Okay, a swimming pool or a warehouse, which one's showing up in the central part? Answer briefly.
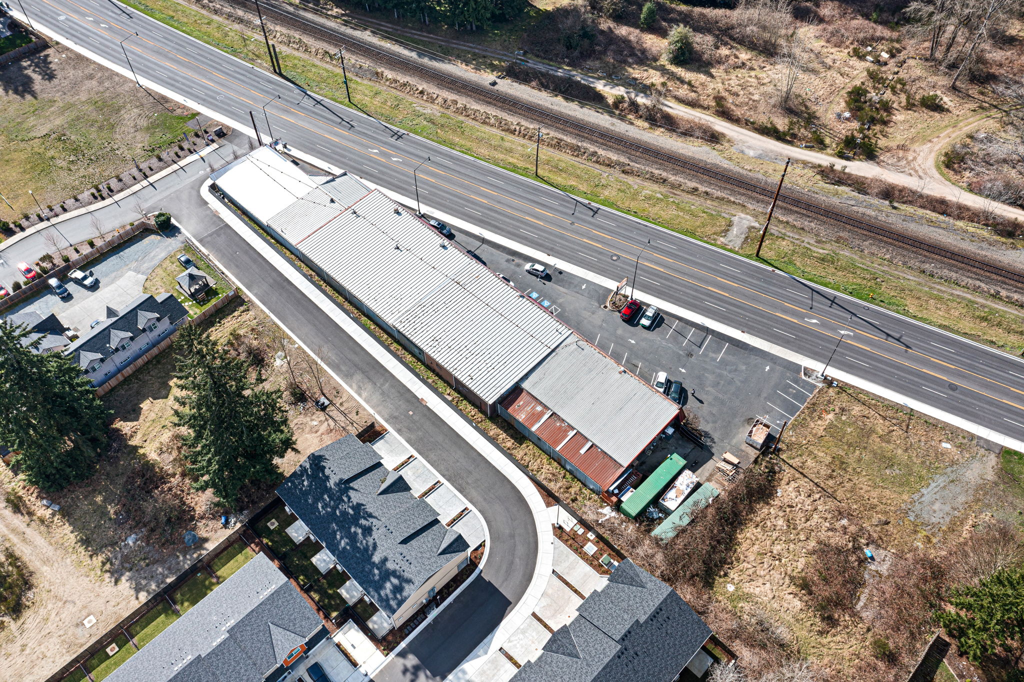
warehouse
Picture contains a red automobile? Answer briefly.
Yes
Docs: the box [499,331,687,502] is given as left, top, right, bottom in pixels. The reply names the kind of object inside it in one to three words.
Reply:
shed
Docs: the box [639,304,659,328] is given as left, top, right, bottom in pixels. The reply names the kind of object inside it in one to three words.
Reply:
car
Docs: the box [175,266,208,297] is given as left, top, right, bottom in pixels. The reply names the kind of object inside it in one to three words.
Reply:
gazebo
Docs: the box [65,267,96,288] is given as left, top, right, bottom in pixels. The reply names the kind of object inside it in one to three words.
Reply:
truck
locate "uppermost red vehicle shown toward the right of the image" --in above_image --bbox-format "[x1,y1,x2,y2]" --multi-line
[620,299,640,322]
